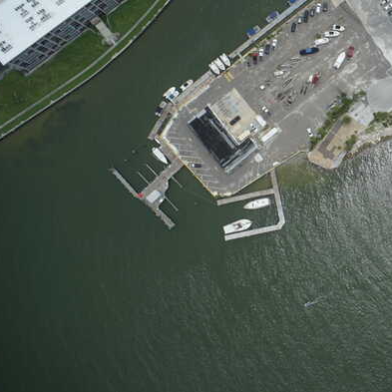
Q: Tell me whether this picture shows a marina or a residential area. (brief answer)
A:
marina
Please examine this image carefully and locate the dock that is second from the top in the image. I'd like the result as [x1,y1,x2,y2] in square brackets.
[147,69,216,138]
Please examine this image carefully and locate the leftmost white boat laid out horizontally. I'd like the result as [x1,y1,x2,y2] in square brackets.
[222,220,252,234]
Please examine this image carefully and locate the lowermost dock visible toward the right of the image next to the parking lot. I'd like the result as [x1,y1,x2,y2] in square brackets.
[217,167,286,241]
